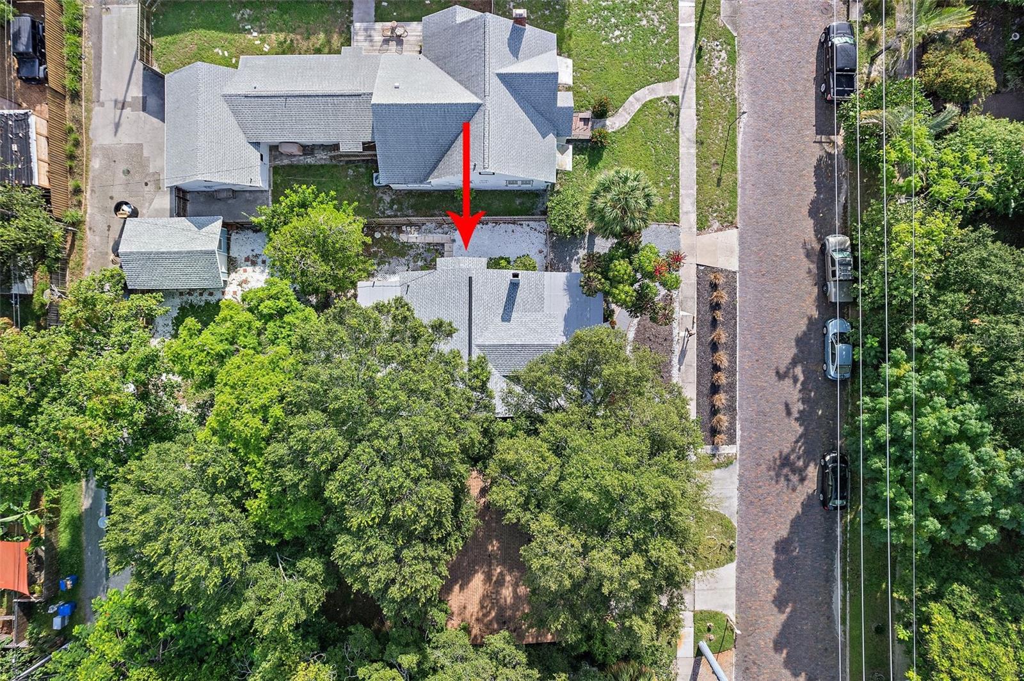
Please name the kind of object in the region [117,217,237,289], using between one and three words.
shed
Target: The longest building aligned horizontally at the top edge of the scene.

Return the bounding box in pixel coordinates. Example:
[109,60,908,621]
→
[165,5,591,193]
